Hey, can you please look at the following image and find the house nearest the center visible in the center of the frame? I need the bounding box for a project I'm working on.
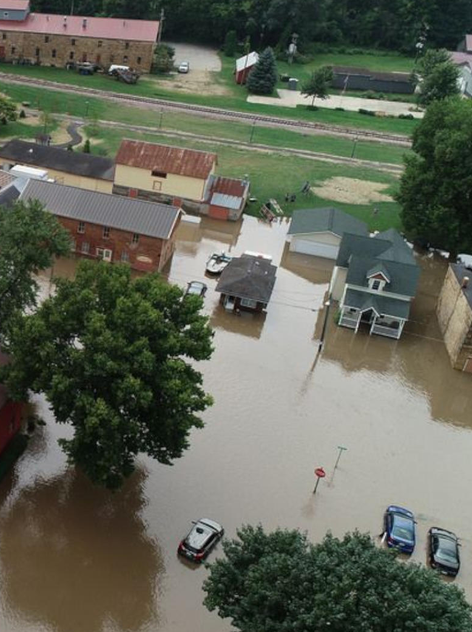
[218,257,284,313]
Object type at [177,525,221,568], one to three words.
car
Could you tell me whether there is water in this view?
Yes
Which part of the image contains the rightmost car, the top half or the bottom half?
bottom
